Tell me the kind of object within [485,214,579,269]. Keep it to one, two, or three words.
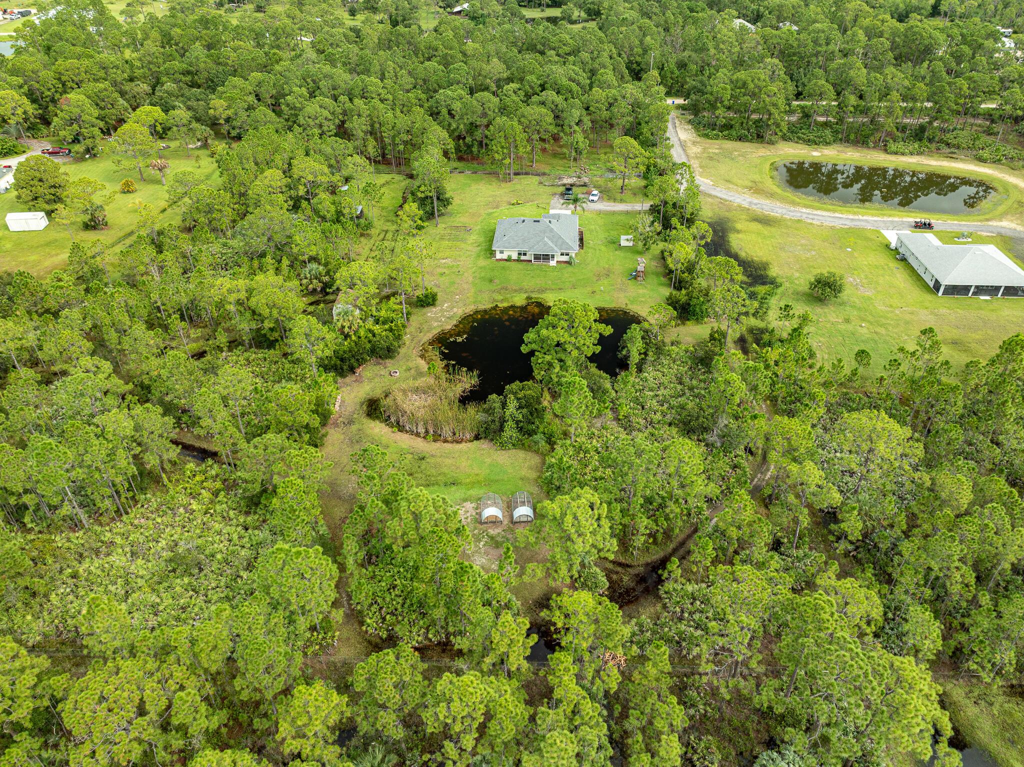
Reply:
house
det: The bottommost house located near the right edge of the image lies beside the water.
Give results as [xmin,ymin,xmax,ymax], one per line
[895,232,1024,305]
